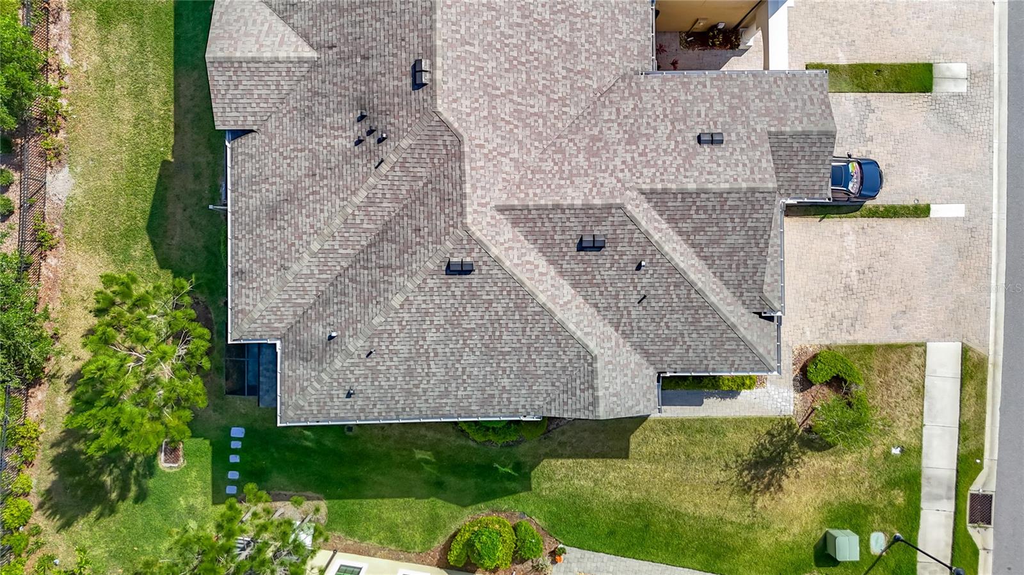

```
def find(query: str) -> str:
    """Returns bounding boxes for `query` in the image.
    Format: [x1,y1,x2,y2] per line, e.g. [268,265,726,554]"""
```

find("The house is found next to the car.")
[206,0,836,424]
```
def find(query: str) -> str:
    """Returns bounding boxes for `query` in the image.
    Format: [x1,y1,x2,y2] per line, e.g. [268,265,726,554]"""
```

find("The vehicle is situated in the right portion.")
[830,150,886,205]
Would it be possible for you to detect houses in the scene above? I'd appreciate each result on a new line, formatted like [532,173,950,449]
[206,0,836,424]
[301,549,475,575]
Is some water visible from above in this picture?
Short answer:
No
